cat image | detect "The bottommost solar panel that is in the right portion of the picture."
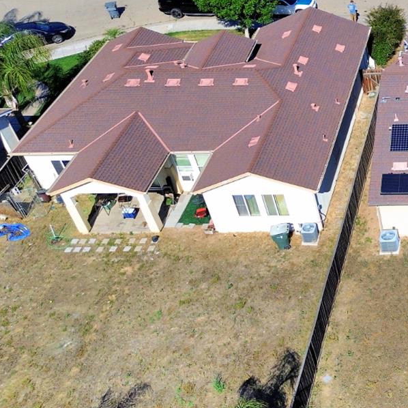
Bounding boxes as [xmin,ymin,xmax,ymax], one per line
[379,173,408,193]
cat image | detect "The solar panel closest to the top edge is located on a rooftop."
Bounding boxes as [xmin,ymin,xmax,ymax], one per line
[389,122,408,150]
